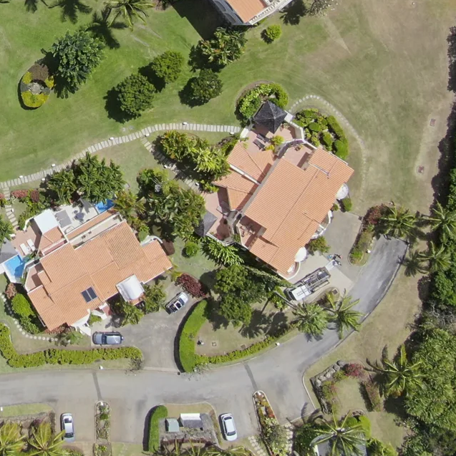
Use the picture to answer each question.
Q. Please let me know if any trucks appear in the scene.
Yes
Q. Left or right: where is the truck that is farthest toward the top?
right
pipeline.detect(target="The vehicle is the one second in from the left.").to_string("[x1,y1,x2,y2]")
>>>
[92,330,121,345]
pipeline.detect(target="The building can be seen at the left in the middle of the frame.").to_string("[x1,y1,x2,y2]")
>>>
[0,205,172,331]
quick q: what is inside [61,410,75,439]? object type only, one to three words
vehicle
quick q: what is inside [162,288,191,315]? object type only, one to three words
truck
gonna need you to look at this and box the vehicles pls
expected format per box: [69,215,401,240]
[284,263,336,302]
[92,330,121,345]
[61,410,75,439]
[162,288,191,315]
[219,410,236,440]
